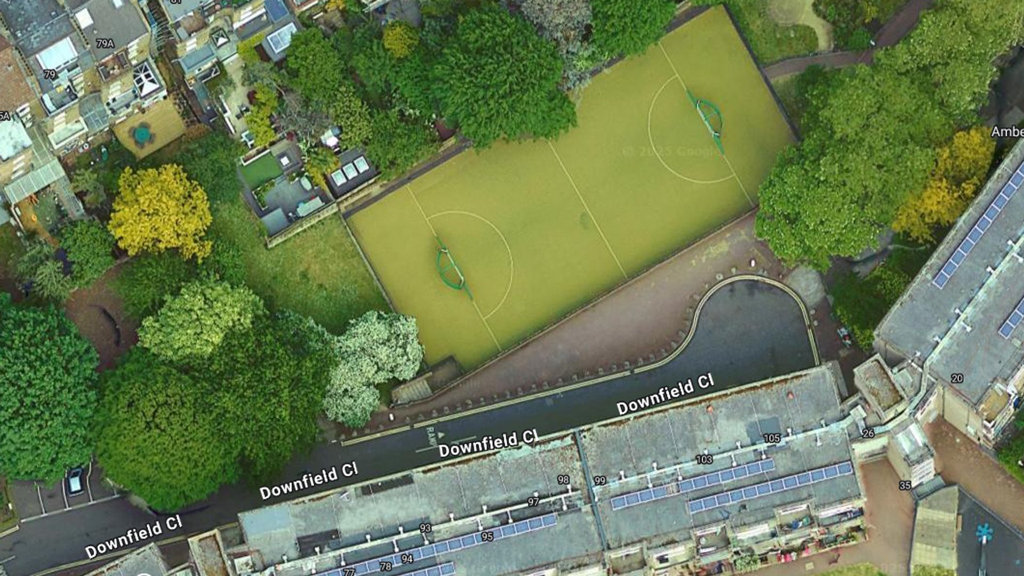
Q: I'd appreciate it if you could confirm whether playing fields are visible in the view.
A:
Yes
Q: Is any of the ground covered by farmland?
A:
No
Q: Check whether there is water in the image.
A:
No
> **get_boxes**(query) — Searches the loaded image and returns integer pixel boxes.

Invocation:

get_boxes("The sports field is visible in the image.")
[346,6,811,369]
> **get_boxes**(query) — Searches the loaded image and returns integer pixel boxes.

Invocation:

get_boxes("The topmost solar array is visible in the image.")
[933,154,1024,285]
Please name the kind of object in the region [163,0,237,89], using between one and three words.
house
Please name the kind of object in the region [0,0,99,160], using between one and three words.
house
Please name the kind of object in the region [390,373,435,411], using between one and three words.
shed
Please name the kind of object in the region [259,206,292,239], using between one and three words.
shed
